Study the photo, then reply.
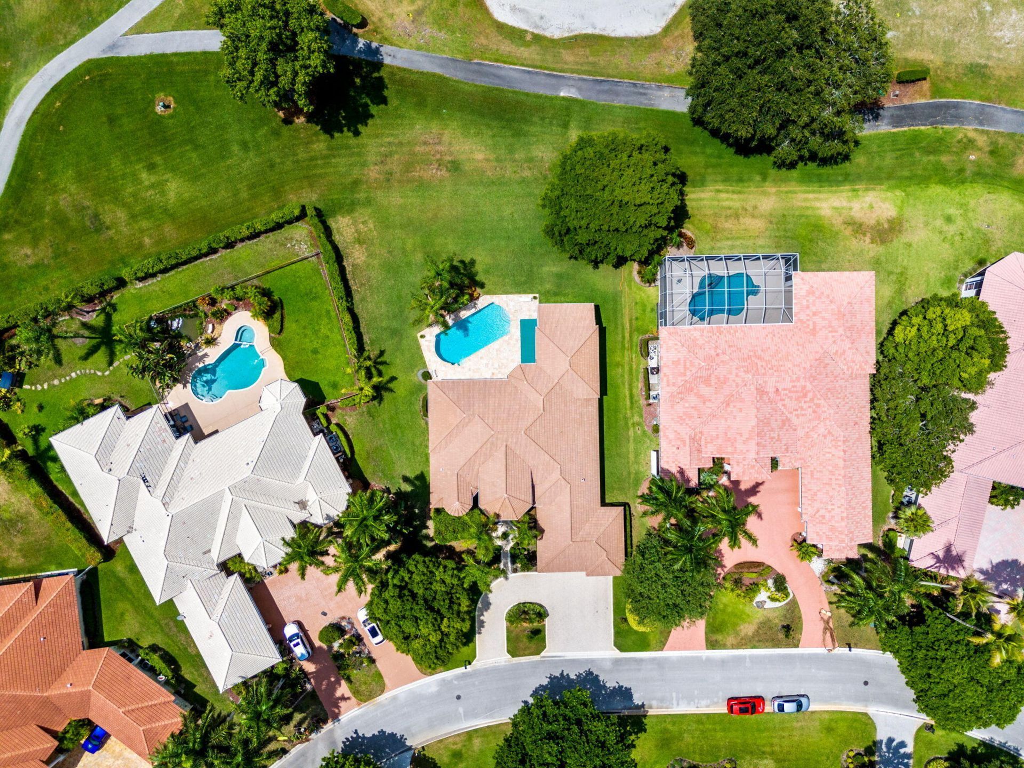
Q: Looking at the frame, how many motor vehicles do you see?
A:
five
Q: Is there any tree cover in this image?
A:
Yes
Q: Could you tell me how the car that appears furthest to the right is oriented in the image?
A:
horizontally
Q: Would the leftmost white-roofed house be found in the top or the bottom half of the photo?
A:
bottom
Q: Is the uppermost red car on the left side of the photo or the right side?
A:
right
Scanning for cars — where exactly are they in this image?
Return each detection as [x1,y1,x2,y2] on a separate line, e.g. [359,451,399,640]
[354,606,382,648]
[283,621,309,665]
[75,724,106,761]
[726,695,765,715]
[770,694,810,714]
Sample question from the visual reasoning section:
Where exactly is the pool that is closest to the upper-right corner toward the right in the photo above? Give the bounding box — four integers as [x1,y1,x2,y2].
[689,273,761,322]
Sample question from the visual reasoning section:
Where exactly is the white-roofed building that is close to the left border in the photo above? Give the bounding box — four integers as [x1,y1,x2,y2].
[47,375,348,694]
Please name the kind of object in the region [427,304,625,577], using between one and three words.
house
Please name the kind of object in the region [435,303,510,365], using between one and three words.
swimming pool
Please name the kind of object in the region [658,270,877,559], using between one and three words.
house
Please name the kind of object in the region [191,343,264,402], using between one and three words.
swimming pool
